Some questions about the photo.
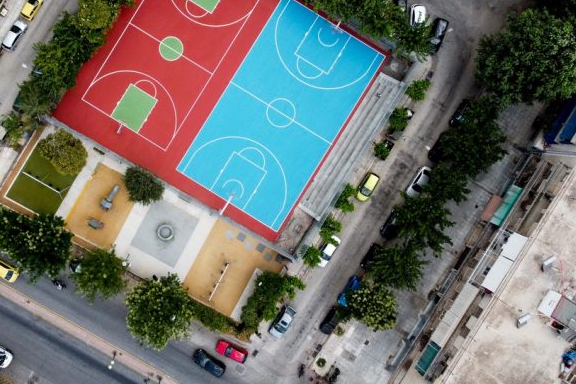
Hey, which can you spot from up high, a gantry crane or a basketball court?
basketball court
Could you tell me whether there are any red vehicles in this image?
Yes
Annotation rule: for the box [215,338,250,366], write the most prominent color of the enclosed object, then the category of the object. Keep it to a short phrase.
red car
